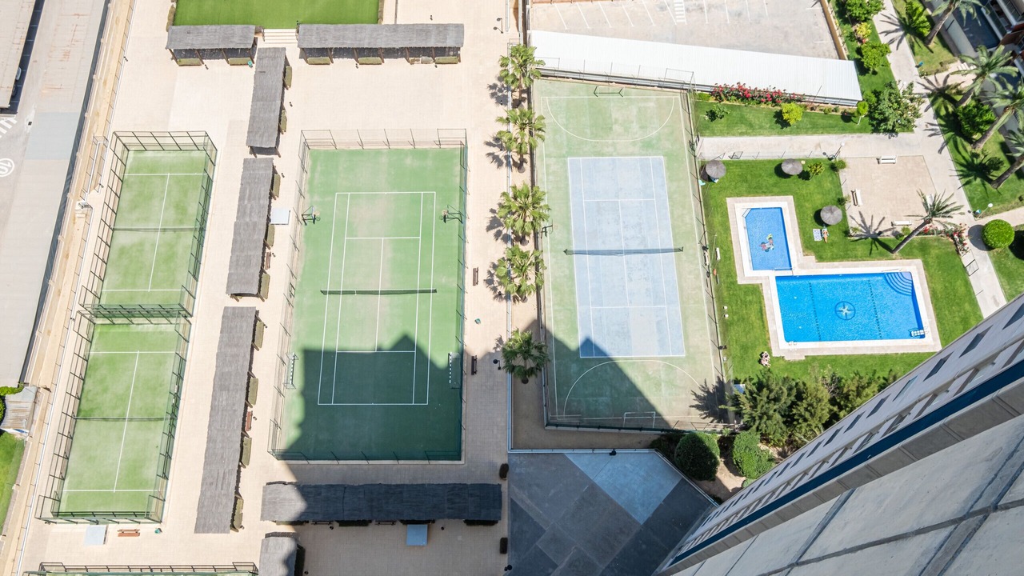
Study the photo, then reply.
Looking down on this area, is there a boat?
No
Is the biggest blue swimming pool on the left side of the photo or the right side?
right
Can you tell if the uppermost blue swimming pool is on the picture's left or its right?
right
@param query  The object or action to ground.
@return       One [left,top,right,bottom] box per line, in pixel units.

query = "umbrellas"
[817,206,841,227]
[702,160,725,180]
[779,158,802,178]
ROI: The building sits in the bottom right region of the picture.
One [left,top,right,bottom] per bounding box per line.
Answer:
[654,292,1024,576]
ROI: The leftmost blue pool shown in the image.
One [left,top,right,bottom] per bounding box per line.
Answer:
[746,207,793,269]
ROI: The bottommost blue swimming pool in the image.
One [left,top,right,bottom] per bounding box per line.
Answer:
[777,266,933,347]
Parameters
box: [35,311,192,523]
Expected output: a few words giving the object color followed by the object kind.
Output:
green sports court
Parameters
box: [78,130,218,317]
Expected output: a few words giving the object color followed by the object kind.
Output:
green sports court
